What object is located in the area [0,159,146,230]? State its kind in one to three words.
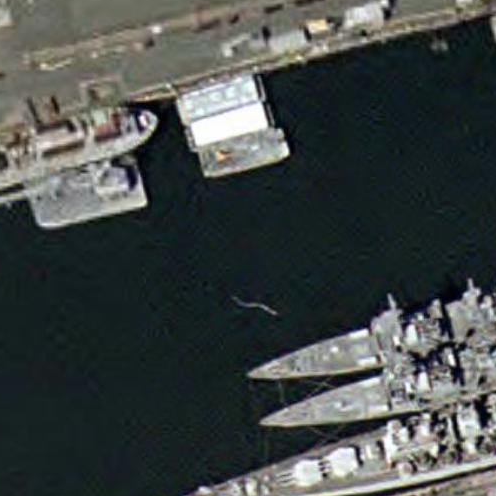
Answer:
ship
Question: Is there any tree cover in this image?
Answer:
No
